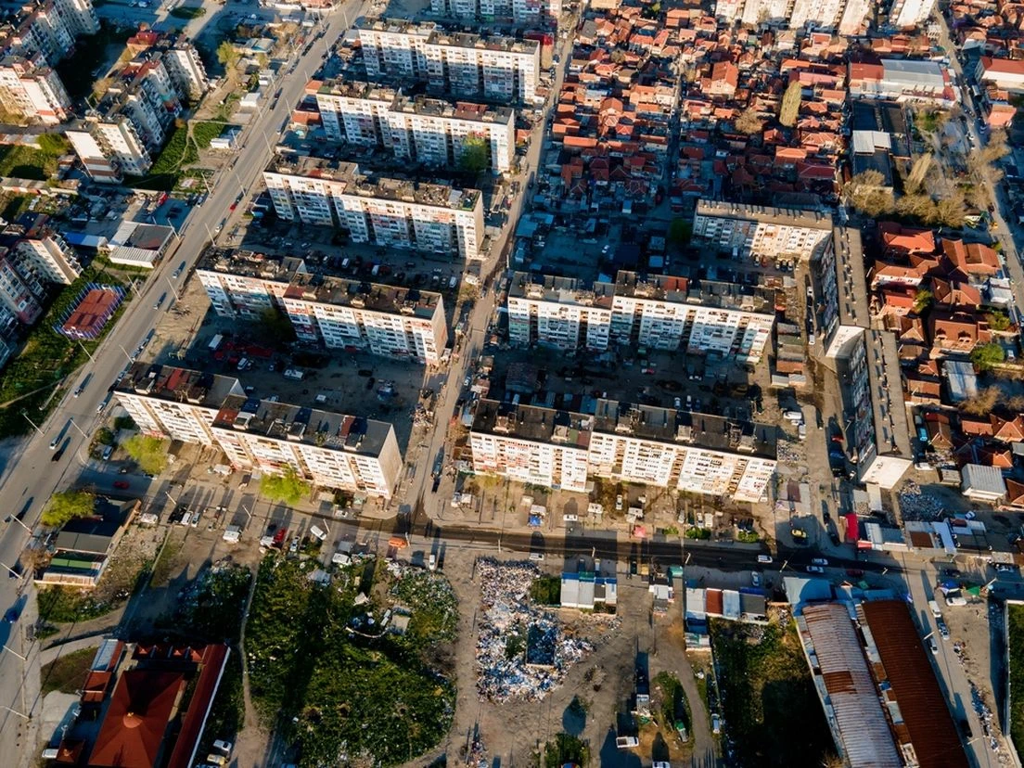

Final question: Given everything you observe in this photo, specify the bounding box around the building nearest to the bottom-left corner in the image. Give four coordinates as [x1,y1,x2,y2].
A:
[49,732,97,768]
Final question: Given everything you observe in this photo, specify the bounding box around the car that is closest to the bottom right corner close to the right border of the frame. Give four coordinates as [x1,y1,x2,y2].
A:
[959,717,975,739]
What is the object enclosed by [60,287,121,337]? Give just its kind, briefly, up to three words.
sports court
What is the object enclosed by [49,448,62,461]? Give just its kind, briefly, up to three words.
vehicle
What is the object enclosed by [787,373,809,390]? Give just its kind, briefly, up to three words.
shed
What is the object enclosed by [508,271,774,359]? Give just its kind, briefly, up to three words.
building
